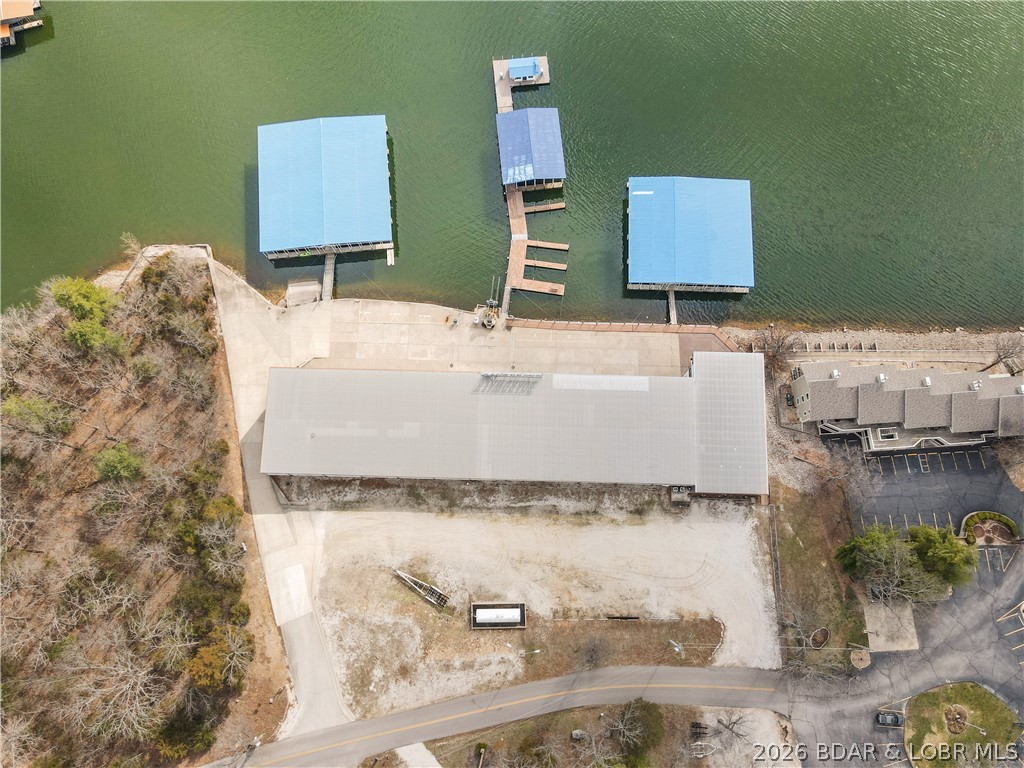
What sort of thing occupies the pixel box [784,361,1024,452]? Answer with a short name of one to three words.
building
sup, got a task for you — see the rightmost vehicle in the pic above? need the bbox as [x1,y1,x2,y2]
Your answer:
[878,714,906,728]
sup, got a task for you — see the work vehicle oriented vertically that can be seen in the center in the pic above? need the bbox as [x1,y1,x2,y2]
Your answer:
[481,282,498,329]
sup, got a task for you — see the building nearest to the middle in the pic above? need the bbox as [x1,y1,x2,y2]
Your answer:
[261,352,769,504]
